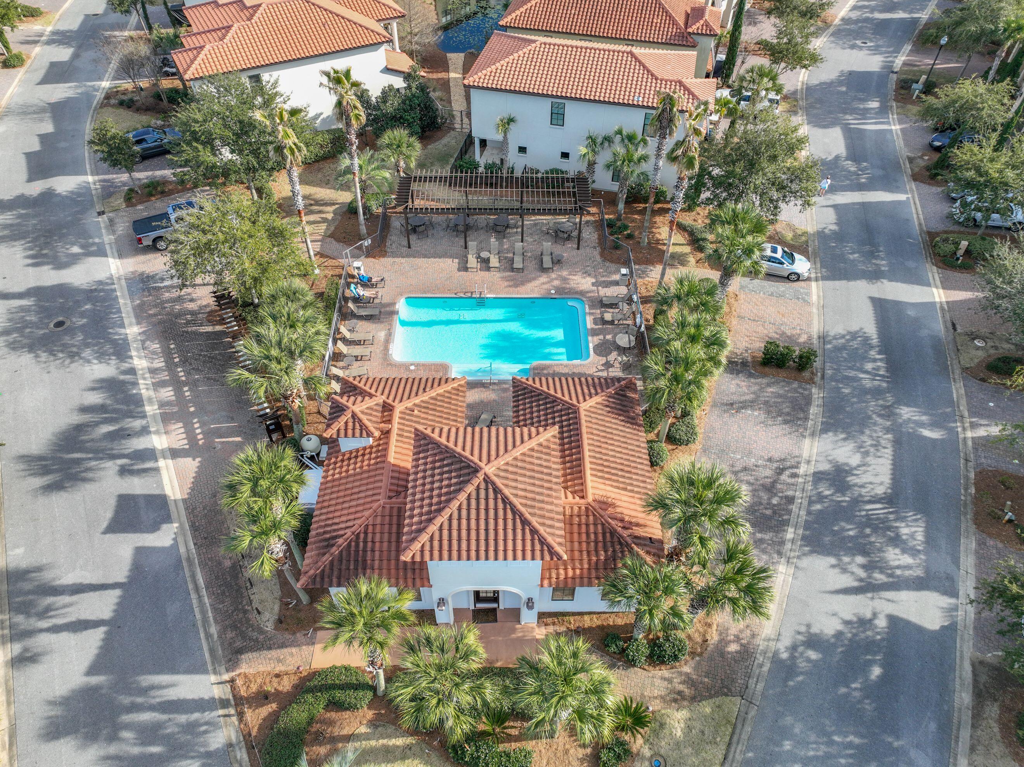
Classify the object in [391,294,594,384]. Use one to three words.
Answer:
swimming pool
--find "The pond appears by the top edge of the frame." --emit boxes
[435,0,519,56]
